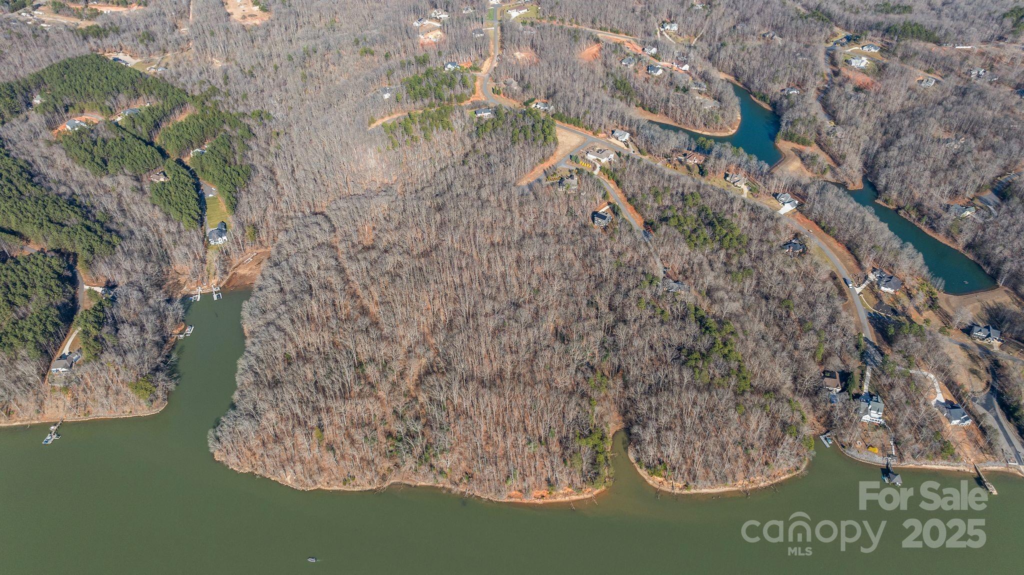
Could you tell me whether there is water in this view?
Yes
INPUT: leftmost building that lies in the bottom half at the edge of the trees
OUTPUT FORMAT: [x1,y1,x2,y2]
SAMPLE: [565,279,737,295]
[51,354,86,381]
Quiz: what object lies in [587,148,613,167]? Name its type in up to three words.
house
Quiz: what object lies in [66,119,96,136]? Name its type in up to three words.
house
